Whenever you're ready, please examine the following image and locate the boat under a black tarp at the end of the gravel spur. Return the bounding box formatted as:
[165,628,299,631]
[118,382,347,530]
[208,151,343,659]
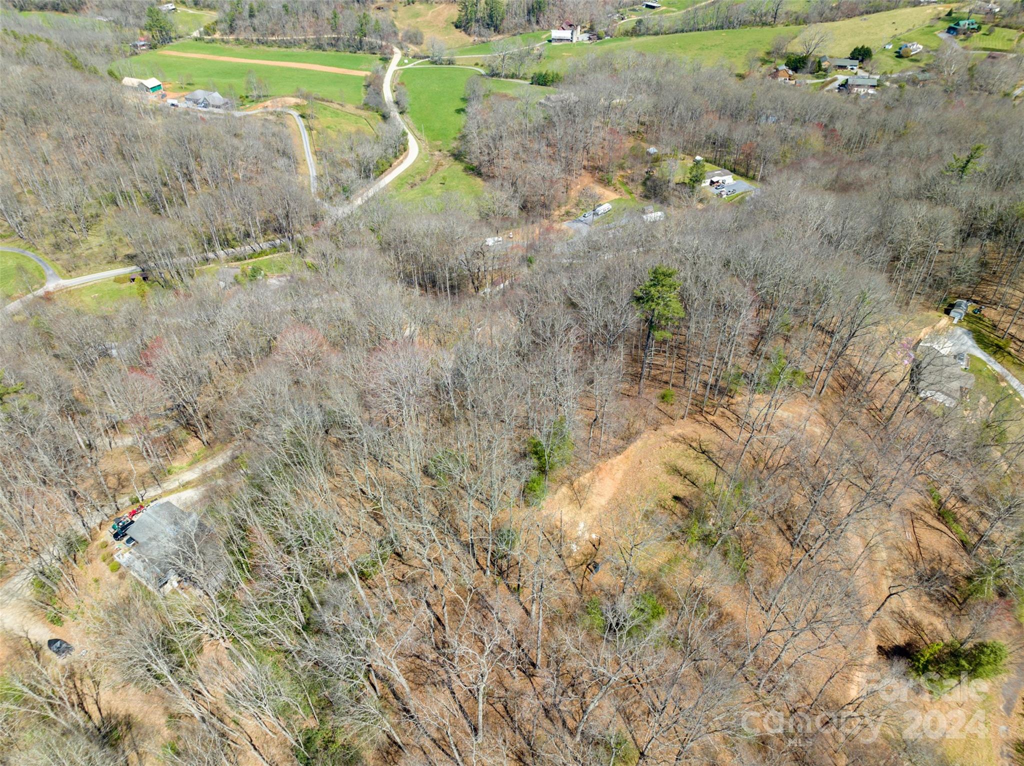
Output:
[46,637,74,656]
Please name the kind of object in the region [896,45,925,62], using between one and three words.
house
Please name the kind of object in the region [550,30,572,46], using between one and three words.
barn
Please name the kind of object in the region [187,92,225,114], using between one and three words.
house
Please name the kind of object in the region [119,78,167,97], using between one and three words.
barn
